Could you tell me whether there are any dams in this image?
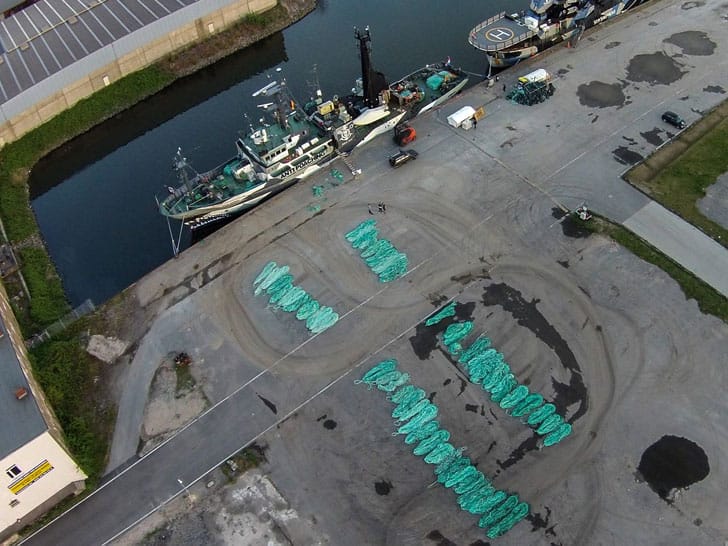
No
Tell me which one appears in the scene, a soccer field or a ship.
ship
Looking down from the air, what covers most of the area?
paved ground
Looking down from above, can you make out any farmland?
No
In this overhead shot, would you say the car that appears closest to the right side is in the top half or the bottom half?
top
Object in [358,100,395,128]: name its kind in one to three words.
boat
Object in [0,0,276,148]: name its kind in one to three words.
warehouse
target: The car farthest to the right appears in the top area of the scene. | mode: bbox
[660,106,690,126]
